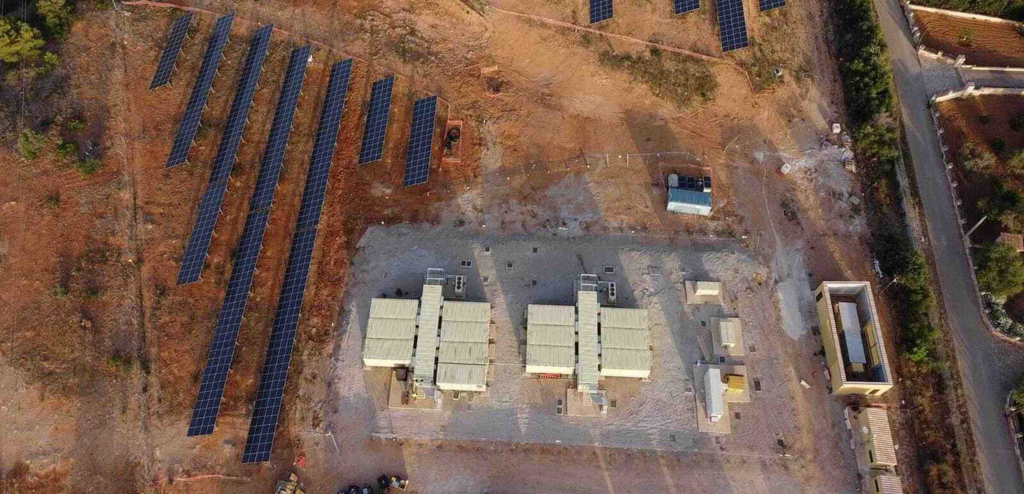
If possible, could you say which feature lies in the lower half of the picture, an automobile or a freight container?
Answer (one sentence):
You can see a freight container in the lower half of the picture.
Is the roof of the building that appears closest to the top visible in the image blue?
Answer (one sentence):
Yes, the roof of the building that appears closest to the top is blue.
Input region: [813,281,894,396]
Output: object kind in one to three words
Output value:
building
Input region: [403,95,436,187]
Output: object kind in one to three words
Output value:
solar array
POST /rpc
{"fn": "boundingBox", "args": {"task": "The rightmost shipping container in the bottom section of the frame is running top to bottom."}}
[833,302,868,377]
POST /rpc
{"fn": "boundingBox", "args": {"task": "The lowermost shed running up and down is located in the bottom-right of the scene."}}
[860,409,897,469]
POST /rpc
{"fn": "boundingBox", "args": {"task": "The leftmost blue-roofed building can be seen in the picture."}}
[667,189,711,215]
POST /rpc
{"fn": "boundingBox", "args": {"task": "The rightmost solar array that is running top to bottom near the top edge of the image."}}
[716,0,748,53]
